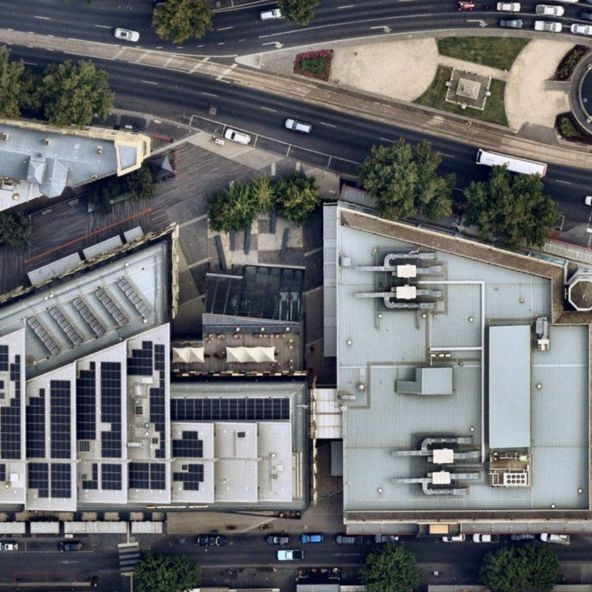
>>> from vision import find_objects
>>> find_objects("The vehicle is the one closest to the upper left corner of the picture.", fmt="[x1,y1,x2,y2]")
[115,28,140,41]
